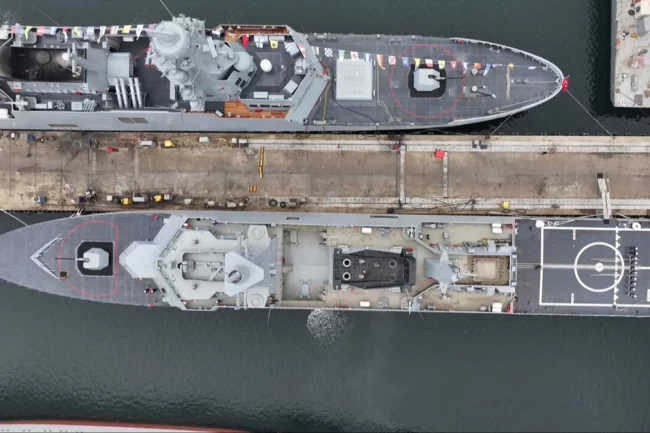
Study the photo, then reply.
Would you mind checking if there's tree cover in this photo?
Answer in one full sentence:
No, tree cover can't be seen anywhere here.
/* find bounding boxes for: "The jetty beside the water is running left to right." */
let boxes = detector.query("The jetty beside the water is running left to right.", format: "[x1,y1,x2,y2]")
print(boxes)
[0,131,650,217]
